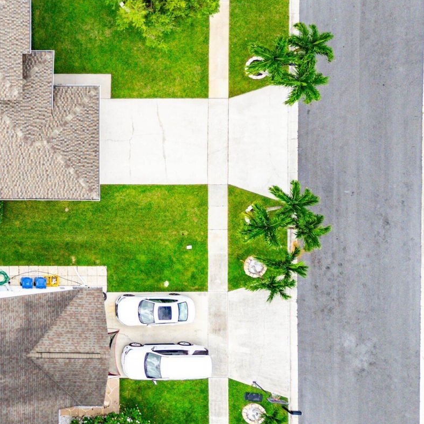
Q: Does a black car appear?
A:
No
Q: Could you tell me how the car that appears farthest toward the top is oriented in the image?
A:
from left to right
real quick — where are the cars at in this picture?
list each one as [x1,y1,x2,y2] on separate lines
[119,339,211,383]
[112,289,196,329]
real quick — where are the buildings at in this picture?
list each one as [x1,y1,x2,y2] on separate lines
[0,283,110,424]
[0,0,102,203]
